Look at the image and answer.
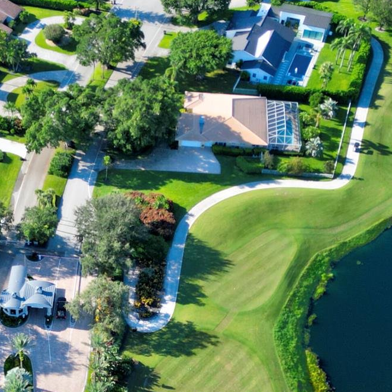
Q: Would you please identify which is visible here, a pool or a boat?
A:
pool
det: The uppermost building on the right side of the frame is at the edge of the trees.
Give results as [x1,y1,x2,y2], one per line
[226,4,333,86]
